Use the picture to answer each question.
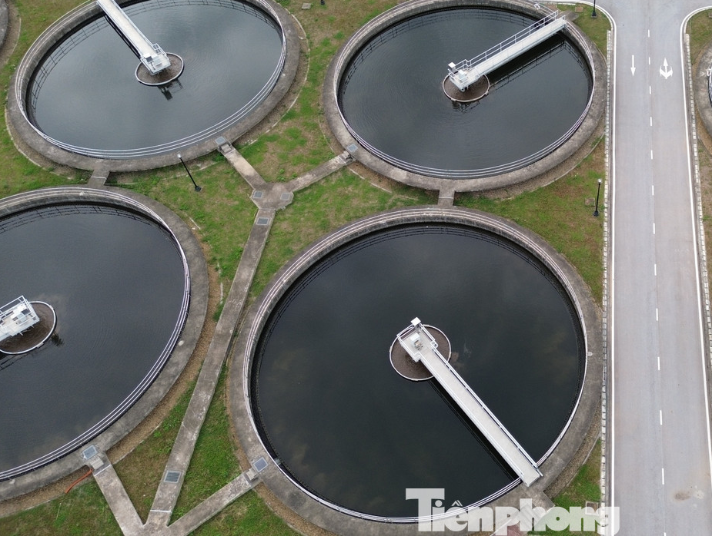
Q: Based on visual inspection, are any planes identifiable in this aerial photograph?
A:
No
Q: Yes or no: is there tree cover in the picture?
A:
No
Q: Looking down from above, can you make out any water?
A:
Yes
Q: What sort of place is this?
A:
industrial area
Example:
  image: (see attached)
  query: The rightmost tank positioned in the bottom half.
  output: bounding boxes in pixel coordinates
[230,204,606,536]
